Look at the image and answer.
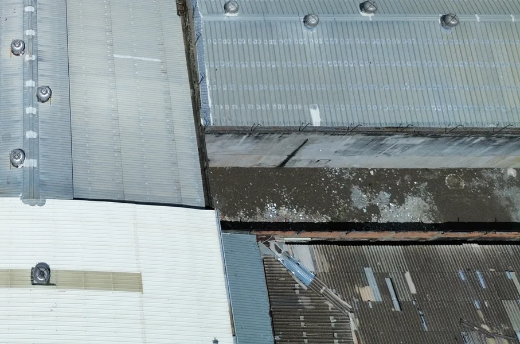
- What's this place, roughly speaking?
industrial area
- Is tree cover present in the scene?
No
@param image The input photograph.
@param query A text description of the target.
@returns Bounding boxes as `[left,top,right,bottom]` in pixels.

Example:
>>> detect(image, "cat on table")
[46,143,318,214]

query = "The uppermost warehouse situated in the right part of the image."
[185,0,520,171]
